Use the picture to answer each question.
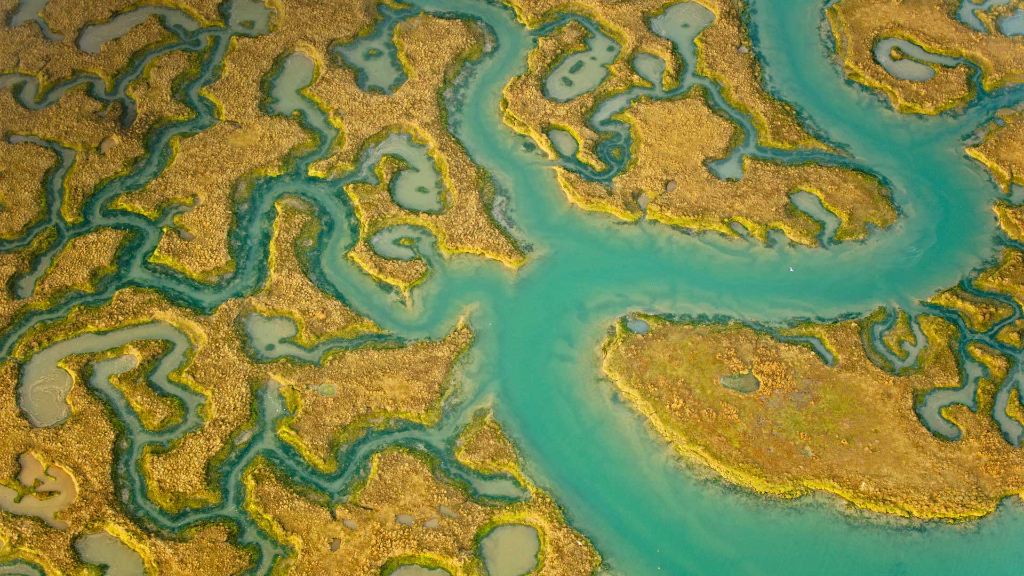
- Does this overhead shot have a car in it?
No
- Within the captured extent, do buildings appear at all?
No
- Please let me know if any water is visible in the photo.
Yes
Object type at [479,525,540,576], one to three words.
pond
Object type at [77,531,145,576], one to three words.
pond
